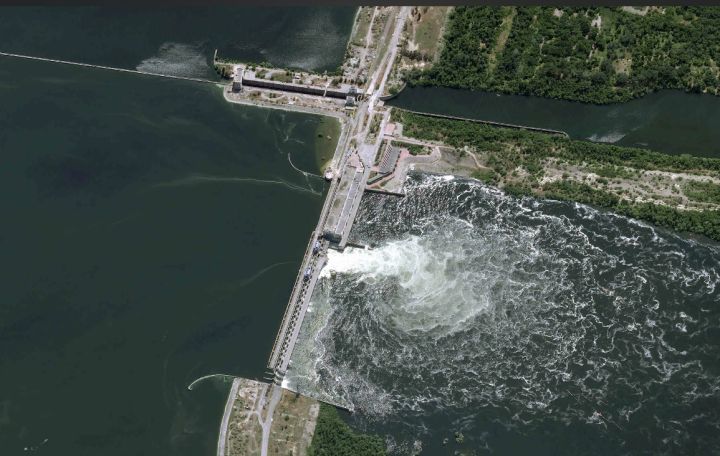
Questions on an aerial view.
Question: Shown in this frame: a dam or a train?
dam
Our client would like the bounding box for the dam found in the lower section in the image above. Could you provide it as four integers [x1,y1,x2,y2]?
[263,230,330,385]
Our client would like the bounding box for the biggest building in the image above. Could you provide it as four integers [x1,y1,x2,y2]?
[314,169,367,249]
